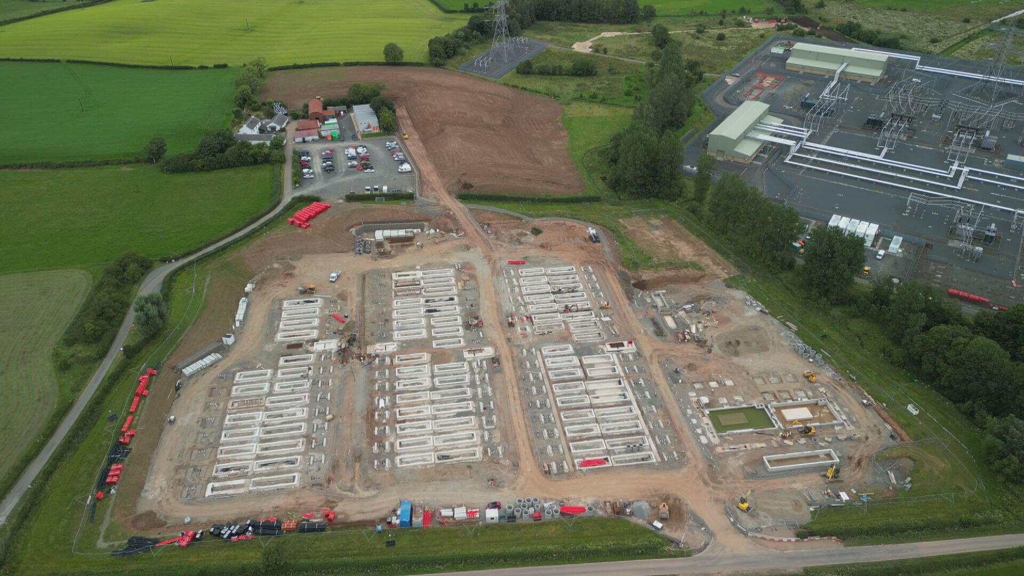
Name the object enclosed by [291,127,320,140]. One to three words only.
shed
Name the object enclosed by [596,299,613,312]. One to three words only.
vehicle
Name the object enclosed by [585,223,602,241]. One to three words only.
work vehicle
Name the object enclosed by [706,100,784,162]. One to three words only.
building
